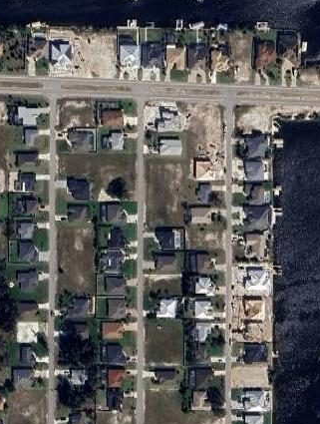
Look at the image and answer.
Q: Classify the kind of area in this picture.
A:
residential area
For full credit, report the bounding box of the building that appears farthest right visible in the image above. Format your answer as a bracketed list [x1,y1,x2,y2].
[280,47,300,70]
